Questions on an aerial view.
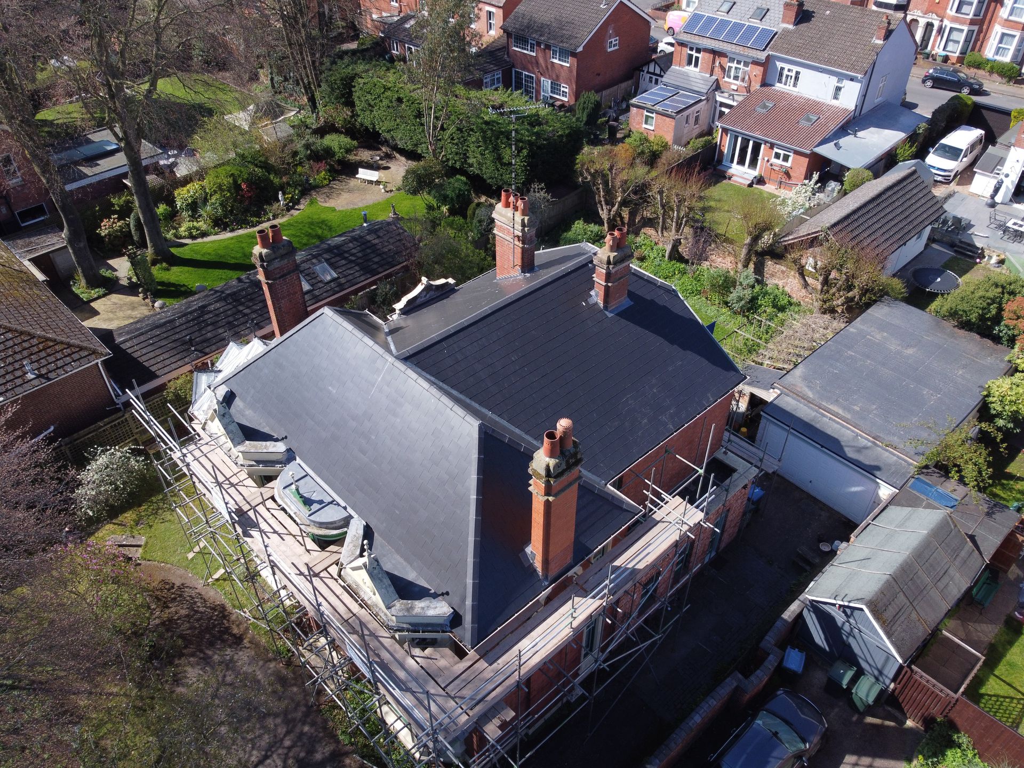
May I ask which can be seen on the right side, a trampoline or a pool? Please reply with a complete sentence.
The feature located on the right side is a trampoline.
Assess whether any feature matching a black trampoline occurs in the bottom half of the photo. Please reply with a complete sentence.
No, no black trampoline is visible in the bottom half of the photo.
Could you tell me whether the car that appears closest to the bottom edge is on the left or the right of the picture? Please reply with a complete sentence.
The car that appears closest to the bottom edge sits on the right side.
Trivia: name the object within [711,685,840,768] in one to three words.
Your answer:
car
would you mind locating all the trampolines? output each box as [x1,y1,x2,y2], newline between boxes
[908,264,967,301]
